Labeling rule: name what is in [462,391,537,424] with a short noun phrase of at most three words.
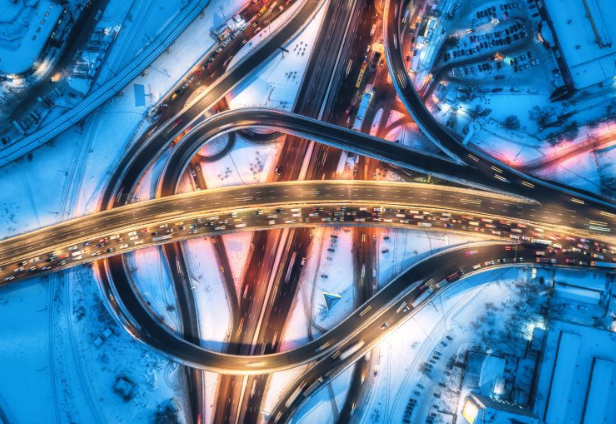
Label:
building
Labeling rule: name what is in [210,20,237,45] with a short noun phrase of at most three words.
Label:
building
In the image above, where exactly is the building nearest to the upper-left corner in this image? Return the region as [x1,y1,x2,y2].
[0,0,76,77]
